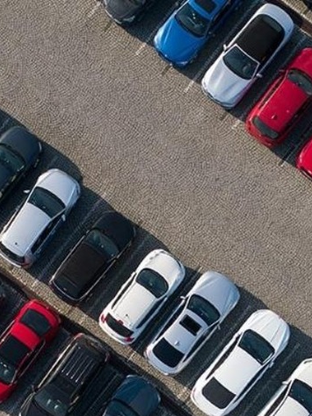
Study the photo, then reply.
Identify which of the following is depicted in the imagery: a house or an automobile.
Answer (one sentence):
This aerial view contains an automobile.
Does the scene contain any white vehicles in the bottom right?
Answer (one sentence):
Yes, there is a white vehicle in the bottom right.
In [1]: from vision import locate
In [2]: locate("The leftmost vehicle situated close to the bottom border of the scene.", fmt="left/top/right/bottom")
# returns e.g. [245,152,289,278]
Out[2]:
[0,299,63,404]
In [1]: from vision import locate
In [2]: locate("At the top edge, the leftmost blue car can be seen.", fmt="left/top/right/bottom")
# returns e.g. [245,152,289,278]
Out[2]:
[157,0,242,71]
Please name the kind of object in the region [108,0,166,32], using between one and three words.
car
